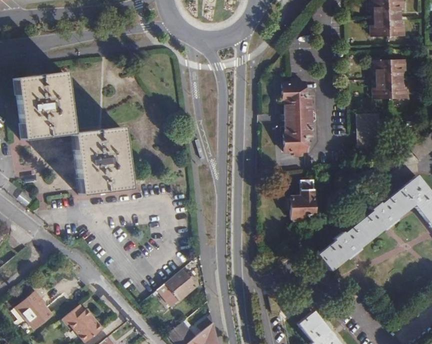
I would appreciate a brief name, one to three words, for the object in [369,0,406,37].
house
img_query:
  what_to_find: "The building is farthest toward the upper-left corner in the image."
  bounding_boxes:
[14,72,78,140]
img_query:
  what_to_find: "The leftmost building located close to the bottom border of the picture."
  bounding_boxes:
[8,290,54,332]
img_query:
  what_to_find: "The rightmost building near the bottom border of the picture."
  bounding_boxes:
[296,310,343,344]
